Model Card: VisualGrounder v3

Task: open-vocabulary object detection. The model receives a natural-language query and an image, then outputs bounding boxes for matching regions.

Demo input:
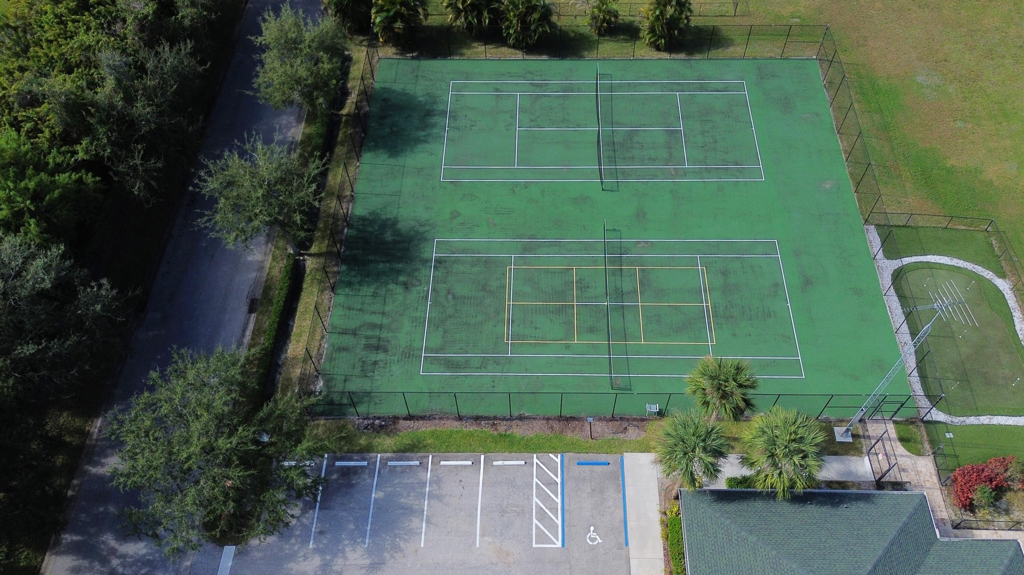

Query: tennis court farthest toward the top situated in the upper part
[351,57,861,209]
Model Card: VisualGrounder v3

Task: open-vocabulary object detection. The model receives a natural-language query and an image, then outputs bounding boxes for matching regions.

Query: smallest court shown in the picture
[504,266,717,344]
